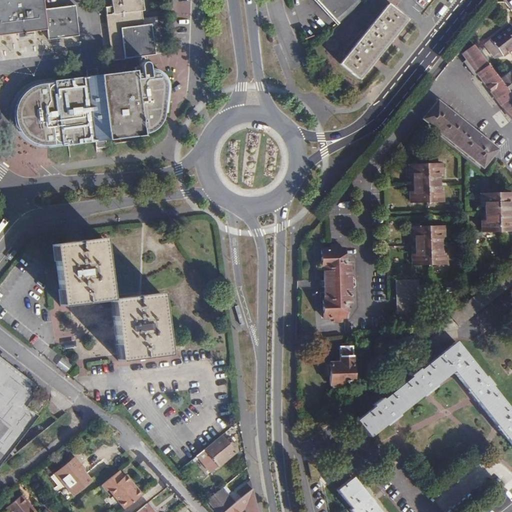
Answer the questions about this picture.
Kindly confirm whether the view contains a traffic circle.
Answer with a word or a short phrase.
Yes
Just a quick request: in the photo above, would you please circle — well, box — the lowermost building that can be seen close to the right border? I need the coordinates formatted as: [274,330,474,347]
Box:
[360,342,512,451]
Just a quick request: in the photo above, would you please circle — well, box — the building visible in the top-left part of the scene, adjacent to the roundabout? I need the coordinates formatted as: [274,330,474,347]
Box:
[15,62,170,150]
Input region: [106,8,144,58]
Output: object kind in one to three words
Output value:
building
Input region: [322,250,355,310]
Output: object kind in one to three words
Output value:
house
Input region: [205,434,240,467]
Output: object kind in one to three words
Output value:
house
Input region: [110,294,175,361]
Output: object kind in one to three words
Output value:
building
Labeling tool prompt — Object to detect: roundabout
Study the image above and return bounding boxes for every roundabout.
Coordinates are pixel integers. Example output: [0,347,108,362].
[197,102,307,214]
